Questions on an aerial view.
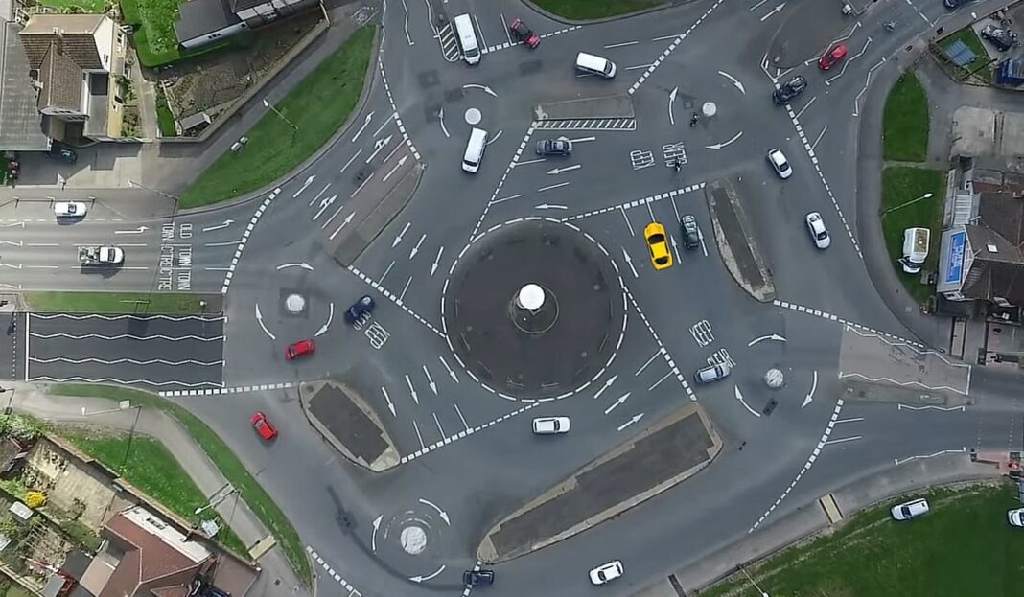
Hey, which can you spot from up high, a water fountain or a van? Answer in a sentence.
I can see a van in this picture.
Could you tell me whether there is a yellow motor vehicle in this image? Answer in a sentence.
Yes, looking at the shot, I can spot a yellow motor vehicle.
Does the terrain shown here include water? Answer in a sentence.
No, there is no water in the image.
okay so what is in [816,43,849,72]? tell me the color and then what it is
red car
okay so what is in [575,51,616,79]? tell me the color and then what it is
white van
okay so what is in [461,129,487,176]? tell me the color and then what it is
white vehicle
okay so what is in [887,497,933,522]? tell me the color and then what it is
white vehicle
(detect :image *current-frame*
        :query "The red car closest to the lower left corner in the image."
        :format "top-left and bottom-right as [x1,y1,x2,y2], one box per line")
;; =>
[252,411,280,442]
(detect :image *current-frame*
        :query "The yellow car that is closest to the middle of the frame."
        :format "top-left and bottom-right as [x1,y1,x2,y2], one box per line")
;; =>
[644,221,674,272]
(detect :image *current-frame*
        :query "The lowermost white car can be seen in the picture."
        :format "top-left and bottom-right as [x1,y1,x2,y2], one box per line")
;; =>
[588,560,624,583]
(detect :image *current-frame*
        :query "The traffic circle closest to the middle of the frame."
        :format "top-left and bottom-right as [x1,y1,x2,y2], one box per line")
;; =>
[442,217,628,402]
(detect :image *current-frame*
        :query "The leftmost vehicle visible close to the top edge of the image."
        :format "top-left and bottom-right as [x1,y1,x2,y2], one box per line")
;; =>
[455,11,482,69]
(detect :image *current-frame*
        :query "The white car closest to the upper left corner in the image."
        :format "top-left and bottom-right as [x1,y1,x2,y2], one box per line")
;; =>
[54,200,90,217]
